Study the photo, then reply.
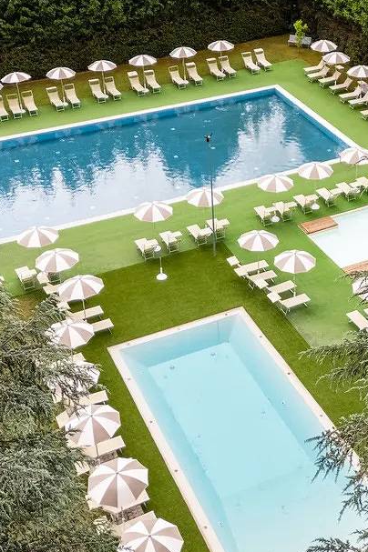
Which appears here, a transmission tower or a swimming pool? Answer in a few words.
swimming pool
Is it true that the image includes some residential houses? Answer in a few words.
No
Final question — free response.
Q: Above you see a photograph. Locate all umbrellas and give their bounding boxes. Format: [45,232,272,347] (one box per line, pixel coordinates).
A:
[208,41,235,65]
[257,176,294,208]
[50,361,104,416]
[35,250,80,285]
[1,75,31,111]
[132,203,170,251]
[127,57,154,91]
[48,320,99,362]
[298,165,334,191]
[167,49,193,83]
[59,276,106,323]
[321,55,349,90]
[44,70,74,106]
[62,410,119,474]
[311,42,338,58]
[346,66,368,91]
[338,148,368,165]
[20,228,64,252]
[271,249,316,274]
[87,61,116,77]
[118,521,186,552]
[237,229,278,275]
